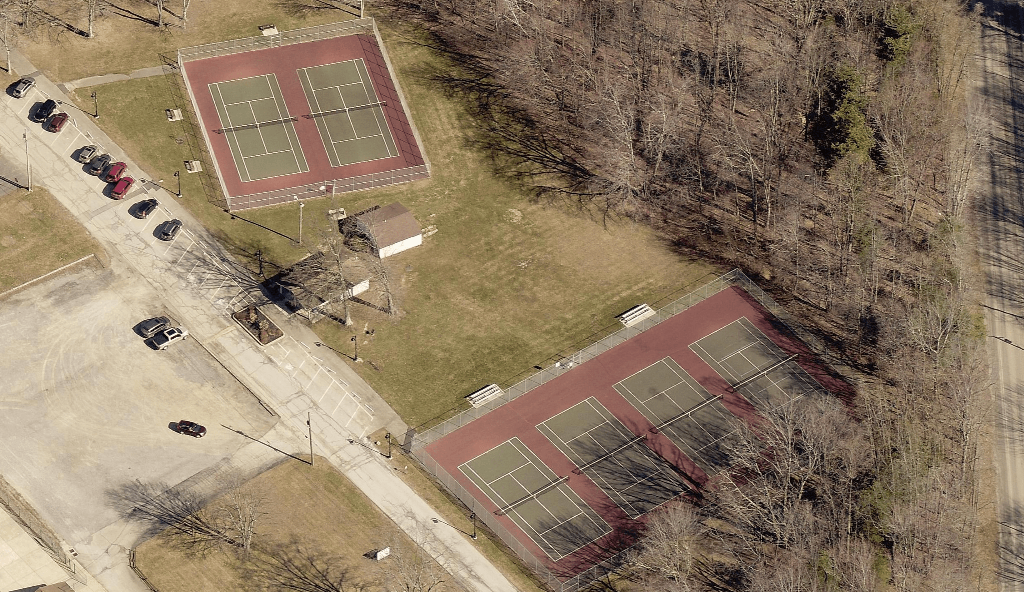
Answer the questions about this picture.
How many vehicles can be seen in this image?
twelve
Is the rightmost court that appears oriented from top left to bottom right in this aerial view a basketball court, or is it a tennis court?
tennis court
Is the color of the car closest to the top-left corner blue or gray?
gray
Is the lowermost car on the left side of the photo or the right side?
left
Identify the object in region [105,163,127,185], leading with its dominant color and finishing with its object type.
red car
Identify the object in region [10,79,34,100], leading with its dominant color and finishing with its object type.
gray car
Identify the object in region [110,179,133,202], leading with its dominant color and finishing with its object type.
red car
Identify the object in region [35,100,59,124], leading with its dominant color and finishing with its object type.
black car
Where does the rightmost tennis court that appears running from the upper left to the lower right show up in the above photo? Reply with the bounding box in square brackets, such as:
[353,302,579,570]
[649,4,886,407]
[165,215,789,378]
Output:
[690,317,842,435]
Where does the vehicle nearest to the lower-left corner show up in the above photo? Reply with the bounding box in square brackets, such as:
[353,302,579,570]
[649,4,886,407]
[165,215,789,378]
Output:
[173,419,206,441]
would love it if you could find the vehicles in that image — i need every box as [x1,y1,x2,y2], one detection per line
[10,79,34,100]
[173,419,206,441]
[105,163,127,185]
[159,222,182,244]
[88,158,109,179]
[133,200,160,221]
[35,100,59,124]
[137,320,171,340]
[76,147,97,167]
[46,114,67,135]
[148,328,188,351]
[110,179,133,202]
